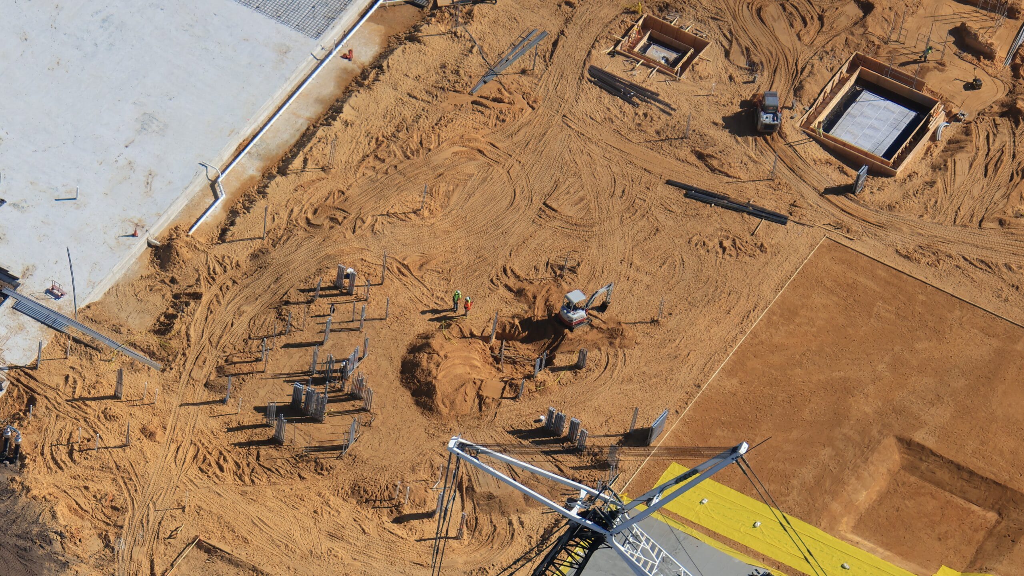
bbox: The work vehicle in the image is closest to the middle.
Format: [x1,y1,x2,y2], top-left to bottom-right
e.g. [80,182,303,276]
[555,280,616,339]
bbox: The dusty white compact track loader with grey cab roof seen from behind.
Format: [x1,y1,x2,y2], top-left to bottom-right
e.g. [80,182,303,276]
[754,86,785,132]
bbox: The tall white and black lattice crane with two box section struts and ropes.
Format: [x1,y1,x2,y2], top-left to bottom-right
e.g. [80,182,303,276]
[431,431,826,576]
